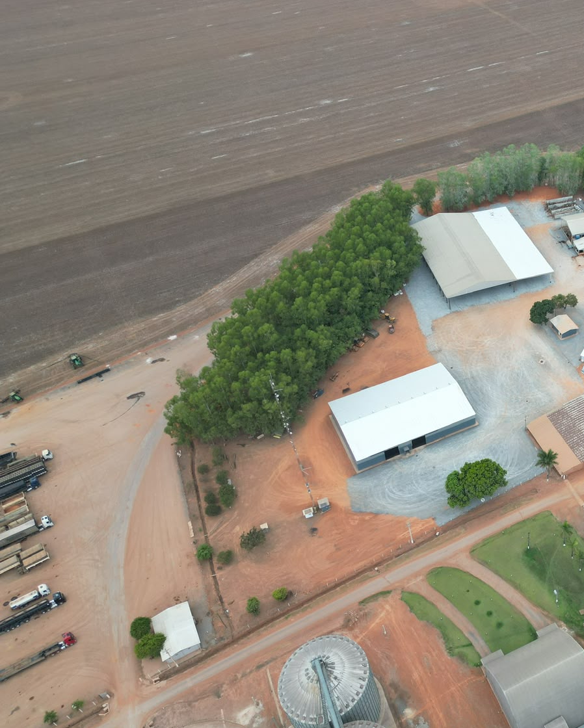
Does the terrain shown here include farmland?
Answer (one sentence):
Yes, farmland can be seen from above here.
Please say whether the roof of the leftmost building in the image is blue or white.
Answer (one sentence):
The roof of the leftmost building is white.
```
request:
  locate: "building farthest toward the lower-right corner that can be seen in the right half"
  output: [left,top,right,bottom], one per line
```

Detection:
[474,616,584,728]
